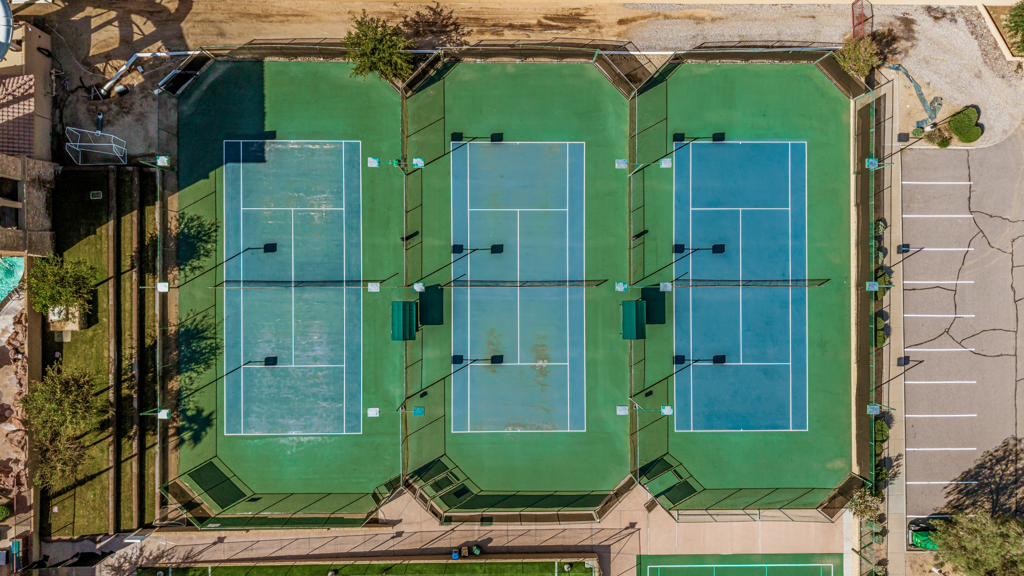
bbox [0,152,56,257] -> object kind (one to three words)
building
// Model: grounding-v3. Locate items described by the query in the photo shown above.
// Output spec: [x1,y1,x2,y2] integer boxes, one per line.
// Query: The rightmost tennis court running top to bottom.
[630,63,851,509]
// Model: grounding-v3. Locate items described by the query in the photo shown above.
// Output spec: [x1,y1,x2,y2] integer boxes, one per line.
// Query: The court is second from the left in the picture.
[407,62,630,512]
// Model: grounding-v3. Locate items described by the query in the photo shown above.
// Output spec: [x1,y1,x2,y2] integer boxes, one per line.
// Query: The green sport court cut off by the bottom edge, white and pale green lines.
[636,554,844,576]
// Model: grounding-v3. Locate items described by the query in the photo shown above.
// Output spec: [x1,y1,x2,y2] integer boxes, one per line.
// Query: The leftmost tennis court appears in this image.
[178,61,407,516]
